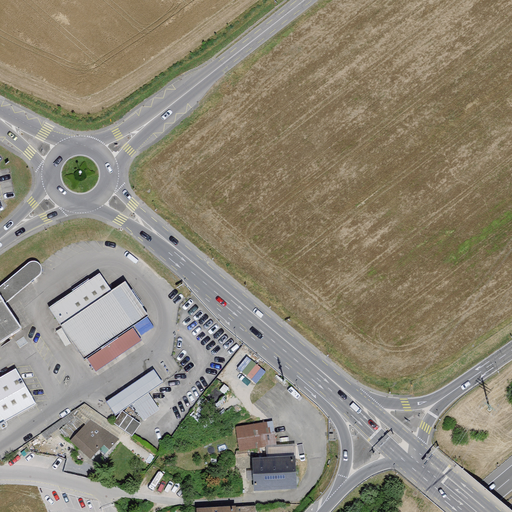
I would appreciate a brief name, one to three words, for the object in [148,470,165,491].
camper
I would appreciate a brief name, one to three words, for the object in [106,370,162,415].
building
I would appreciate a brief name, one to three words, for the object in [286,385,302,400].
vehicle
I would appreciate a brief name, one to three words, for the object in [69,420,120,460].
house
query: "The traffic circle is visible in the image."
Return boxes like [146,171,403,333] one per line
[42,136,119,212]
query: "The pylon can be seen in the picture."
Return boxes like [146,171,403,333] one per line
[406,374,512,510]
